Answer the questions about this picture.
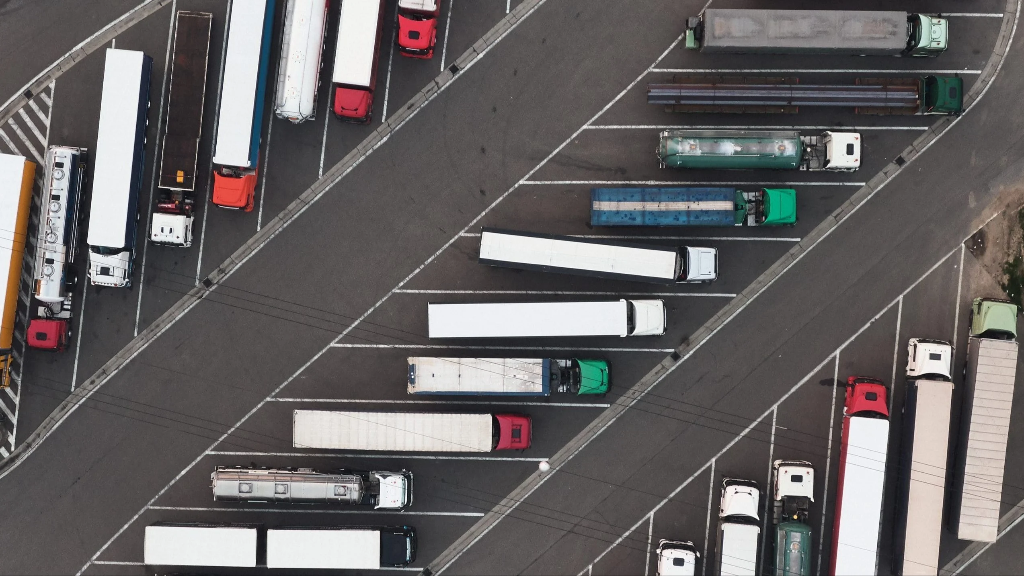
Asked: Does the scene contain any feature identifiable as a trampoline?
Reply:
No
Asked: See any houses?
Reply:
No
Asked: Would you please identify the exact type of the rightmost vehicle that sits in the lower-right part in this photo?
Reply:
truck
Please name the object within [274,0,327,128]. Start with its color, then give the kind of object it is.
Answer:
white truck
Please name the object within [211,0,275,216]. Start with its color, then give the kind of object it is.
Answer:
white truck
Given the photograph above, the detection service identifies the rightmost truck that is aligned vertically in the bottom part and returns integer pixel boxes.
[946,298,1018,543]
